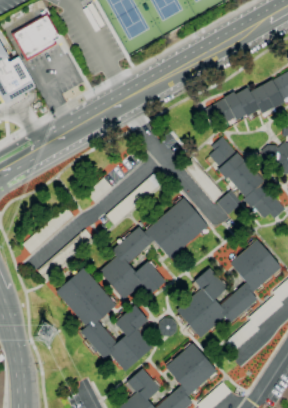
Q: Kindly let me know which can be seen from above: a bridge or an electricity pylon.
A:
electricity pylon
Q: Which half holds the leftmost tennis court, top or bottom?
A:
top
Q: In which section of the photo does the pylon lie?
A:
bottom left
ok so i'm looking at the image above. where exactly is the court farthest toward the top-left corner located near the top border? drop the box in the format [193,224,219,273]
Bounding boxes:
[108,0,148,40]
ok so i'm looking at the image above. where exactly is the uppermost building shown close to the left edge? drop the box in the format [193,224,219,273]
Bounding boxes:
[12,12,58,60]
